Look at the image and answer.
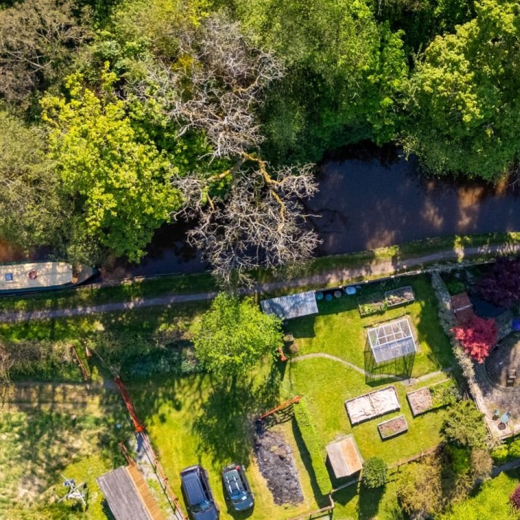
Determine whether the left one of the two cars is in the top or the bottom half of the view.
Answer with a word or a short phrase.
bottom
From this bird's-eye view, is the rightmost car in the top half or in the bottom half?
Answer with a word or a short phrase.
bottom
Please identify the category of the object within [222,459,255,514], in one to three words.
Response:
car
